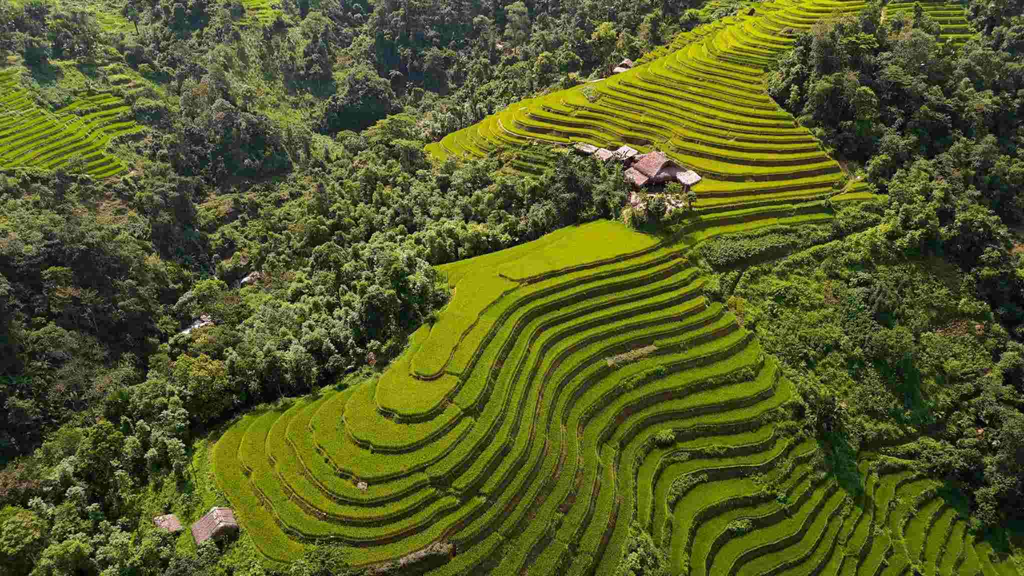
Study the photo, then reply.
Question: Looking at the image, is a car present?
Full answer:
No, I find no car anywhere in the image.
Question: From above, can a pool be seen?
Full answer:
No, there's no pool here.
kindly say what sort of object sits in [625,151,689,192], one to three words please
house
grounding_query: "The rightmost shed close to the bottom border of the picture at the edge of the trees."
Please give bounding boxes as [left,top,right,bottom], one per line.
[190,506,237,566]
